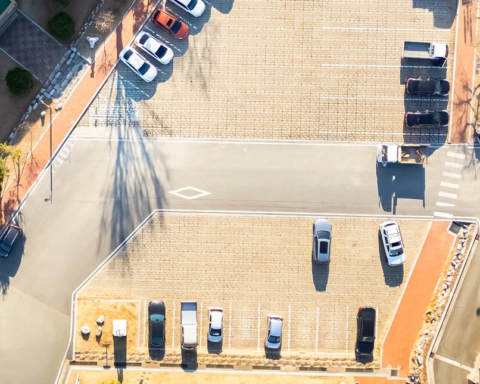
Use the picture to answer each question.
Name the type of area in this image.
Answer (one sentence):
It's a parking lot.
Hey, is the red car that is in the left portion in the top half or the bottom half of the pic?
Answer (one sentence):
The red car that is in the left portion is in the top half of the image.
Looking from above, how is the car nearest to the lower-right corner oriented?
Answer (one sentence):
The car nearest to the lower-right corner runs up and down in the image.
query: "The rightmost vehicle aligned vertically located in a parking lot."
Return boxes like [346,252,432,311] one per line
[380,220,405,267]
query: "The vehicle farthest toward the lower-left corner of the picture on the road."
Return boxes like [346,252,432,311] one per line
[0,222,26,259]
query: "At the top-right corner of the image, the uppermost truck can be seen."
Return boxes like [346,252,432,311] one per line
[401,40,451,63]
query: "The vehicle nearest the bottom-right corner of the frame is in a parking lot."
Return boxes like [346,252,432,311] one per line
[356,306,377,355]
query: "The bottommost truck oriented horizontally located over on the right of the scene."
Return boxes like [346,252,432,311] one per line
[376,144,431,166]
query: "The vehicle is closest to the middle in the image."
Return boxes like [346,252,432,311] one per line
[313,219,334,263]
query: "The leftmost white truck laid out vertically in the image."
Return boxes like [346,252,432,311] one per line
[179,299,200,349]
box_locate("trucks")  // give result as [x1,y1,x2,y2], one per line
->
[401,40,451,63]
[179,299,200,349]
[376,144,431,166]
